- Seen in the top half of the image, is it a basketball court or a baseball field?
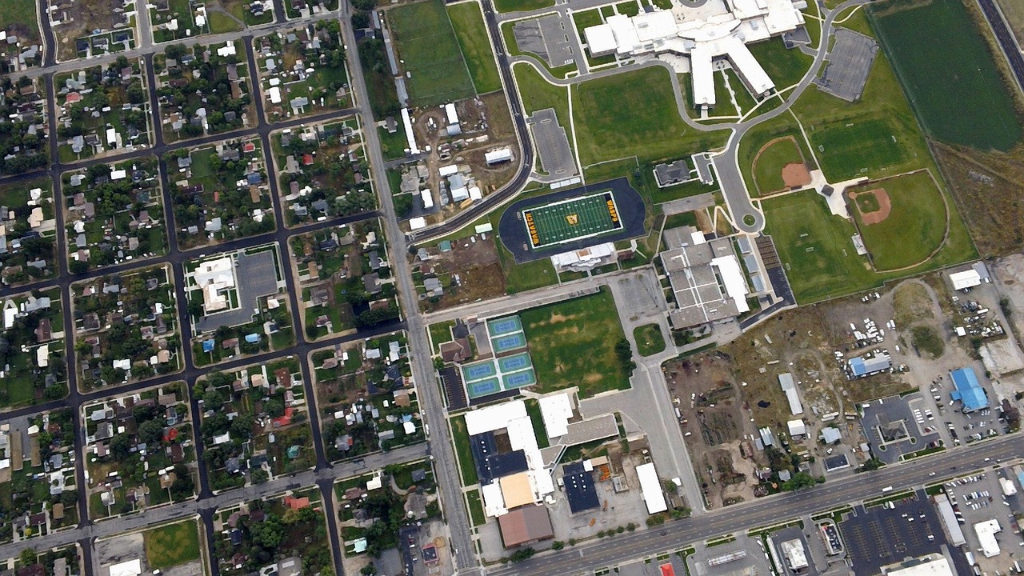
baseball field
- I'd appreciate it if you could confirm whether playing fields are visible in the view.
Yes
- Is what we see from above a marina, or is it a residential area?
residential area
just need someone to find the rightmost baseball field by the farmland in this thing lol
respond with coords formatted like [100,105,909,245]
[842,168,950,273]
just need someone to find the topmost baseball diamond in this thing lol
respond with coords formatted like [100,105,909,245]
[753,135,812,196]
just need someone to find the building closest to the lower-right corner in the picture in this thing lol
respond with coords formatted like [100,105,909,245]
[972,519,1001,558]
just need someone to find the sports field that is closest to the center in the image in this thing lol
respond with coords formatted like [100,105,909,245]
[499,177,645,264]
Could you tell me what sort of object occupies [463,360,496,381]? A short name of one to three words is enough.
tennis court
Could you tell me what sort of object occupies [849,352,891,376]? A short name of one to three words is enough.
building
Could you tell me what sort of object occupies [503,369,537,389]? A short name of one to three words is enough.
tennis court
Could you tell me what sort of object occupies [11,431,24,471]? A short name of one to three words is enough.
house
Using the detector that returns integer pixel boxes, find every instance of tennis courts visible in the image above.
[463,360,496,381]
[499,352,533,373]
[488,315,522,337]
[467,377,501,398]
[492,332,527,352]
[503,369,537,389]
